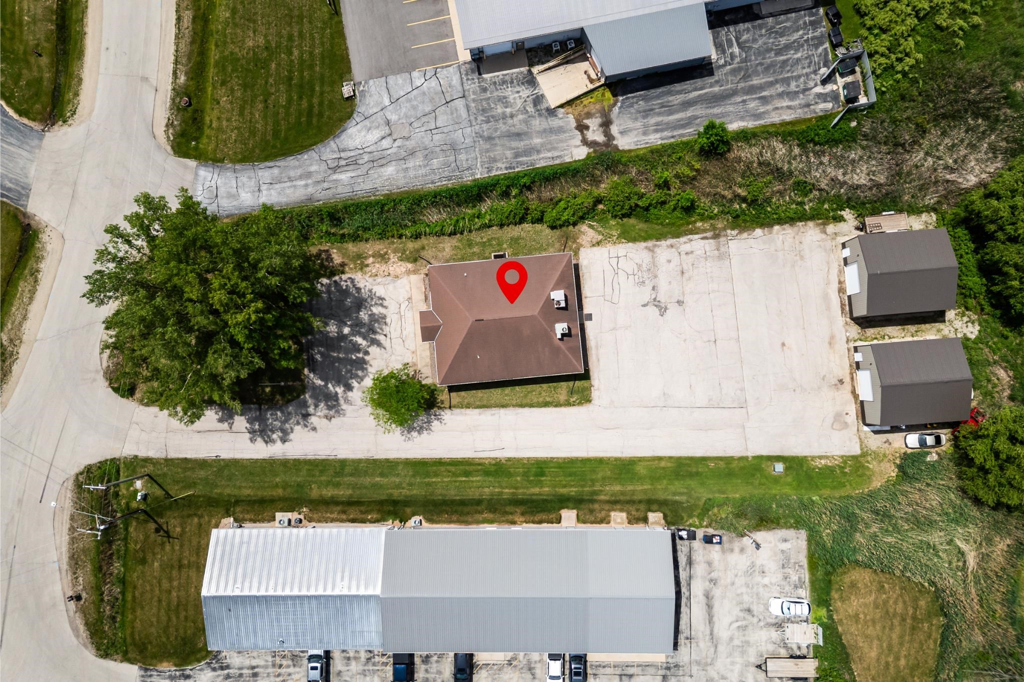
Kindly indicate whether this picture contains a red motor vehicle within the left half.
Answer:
No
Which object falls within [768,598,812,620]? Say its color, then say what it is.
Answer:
white car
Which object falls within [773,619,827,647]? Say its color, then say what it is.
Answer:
white trailer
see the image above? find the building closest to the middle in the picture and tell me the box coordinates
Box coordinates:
[420,251,584,387]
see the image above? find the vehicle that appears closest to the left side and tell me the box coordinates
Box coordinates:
[305,652,327,682]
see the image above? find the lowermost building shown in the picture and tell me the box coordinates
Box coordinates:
[201,525,676,654]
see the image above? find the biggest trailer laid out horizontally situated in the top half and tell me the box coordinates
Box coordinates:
[855,210,909,234]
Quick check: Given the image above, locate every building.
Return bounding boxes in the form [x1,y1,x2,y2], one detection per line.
[454,0,766,84]
[854,337,973,425]
[420,251,584,387]
[843,228,959,318]
[201,525,676,654]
